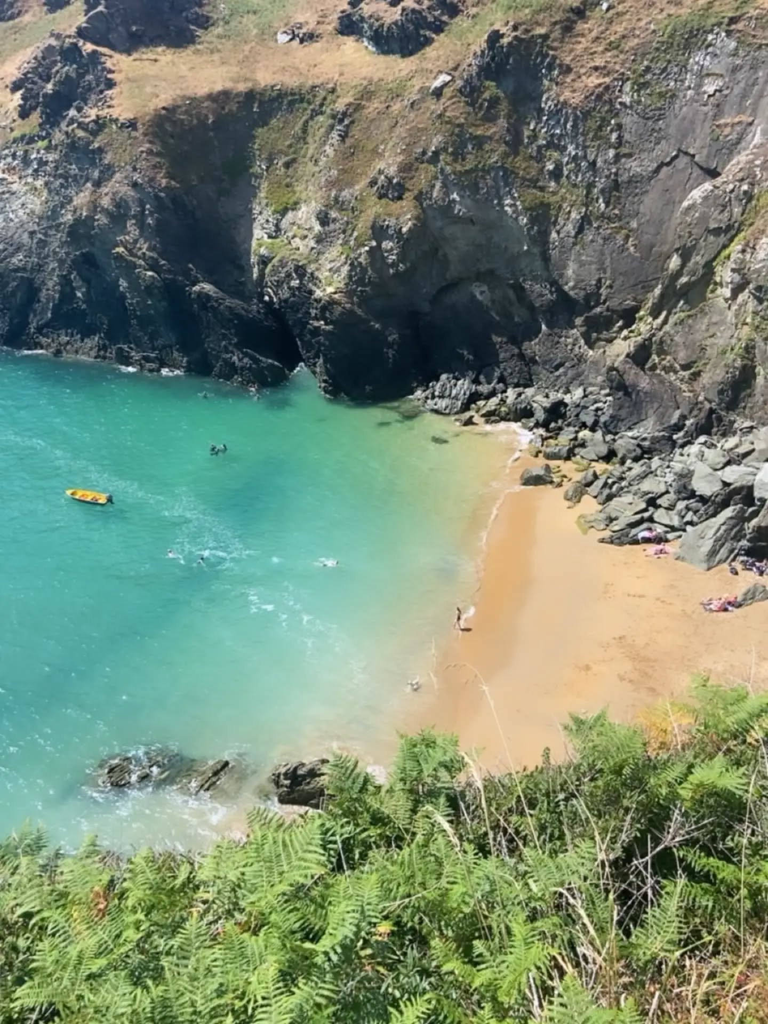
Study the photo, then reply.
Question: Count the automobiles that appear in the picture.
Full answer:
There are no automobiles in the image.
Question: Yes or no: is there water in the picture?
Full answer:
Yes, there's water in this view.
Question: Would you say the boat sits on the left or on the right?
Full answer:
The boat is on the left side of the image.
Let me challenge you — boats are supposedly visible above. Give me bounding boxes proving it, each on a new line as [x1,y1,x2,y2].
[64,492,111,512]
